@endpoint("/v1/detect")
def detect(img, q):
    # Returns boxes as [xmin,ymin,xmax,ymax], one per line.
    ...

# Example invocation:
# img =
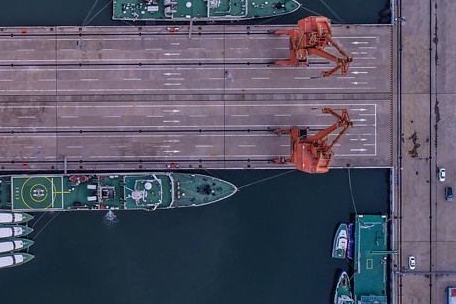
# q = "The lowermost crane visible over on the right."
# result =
[272,105,360,176]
